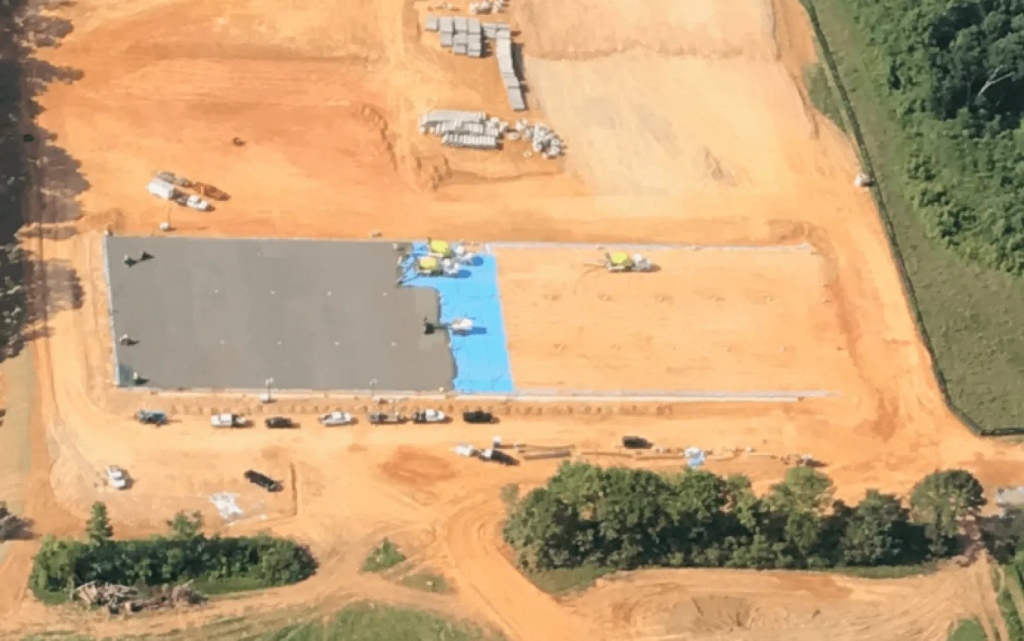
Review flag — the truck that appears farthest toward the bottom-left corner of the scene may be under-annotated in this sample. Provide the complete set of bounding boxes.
[105,464,128,491]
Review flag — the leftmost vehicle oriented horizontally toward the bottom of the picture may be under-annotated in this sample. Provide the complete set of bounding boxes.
[130,409,167,427]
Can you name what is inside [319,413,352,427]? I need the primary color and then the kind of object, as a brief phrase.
white vehicle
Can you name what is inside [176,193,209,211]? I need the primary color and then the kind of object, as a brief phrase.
white vehicle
